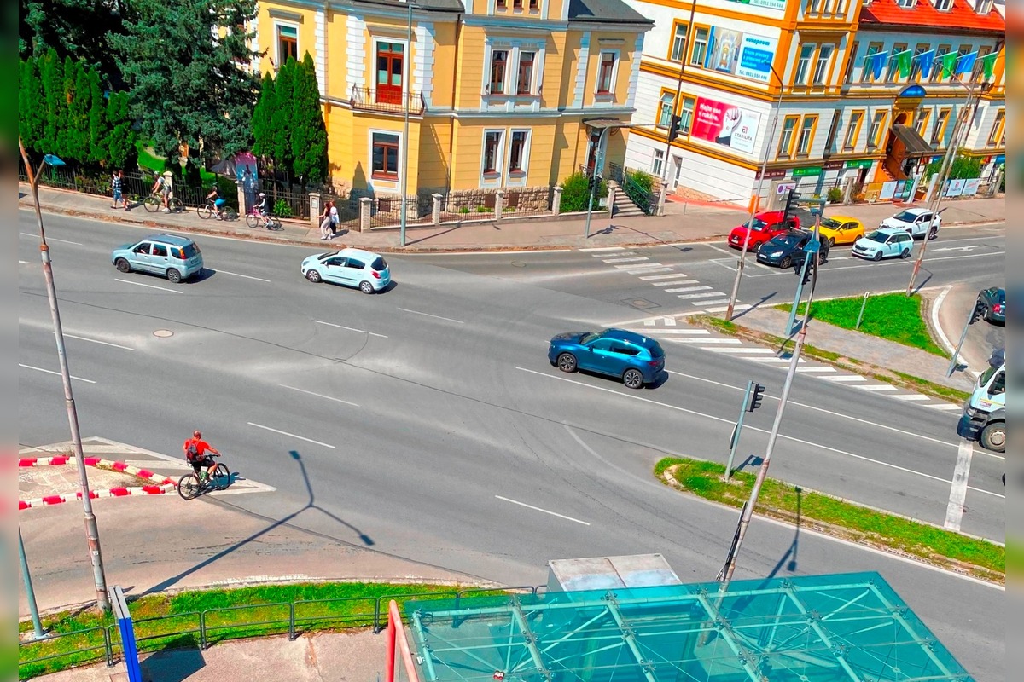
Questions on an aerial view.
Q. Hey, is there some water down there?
No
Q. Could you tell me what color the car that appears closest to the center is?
blue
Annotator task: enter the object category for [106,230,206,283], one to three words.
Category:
car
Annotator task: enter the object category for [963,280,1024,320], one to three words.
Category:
car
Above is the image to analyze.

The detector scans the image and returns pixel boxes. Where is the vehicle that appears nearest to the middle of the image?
[548,330,666,389]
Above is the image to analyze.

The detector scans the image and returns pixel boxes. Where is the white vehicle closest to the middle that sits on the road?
[297,247,394,294]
